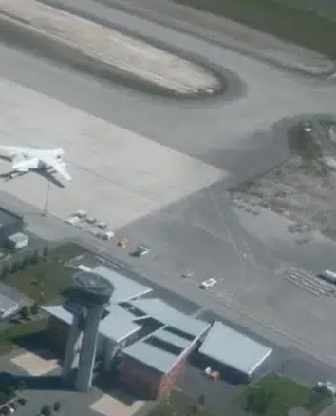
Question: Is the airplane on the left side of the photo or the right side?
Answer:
left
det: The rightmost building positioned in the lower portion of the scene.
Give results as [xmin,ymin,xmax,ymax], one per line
[198,321,274,384]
